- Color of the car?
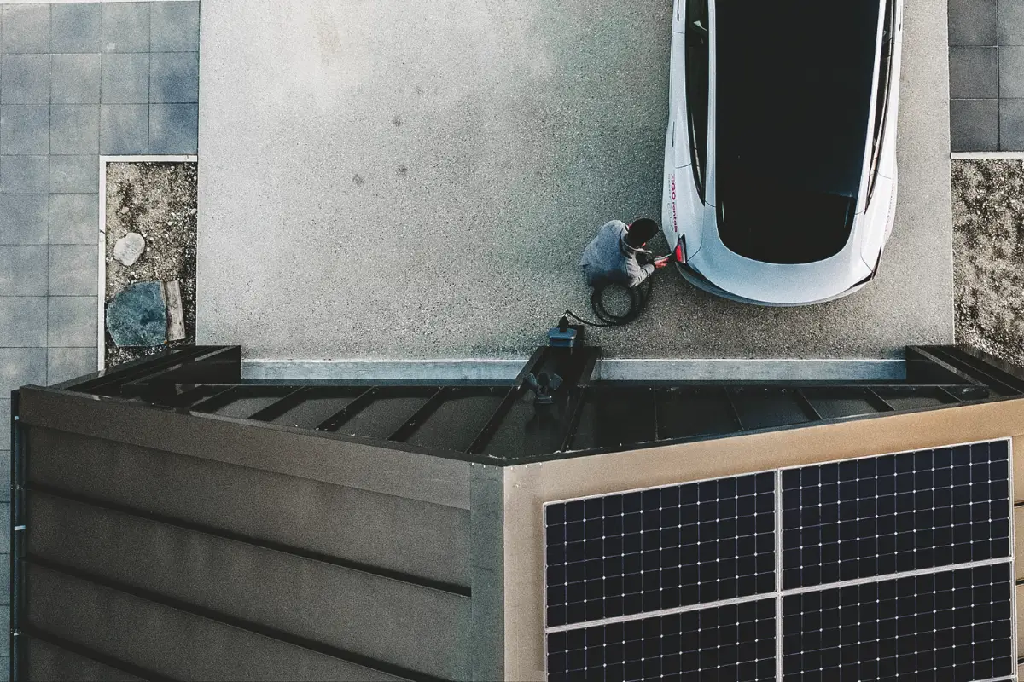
black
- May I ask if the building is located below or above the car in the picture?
below it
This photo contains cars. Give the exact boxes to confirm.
[663,0,903,307]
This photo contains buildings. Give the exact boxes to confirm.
[4,348,1024,682]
